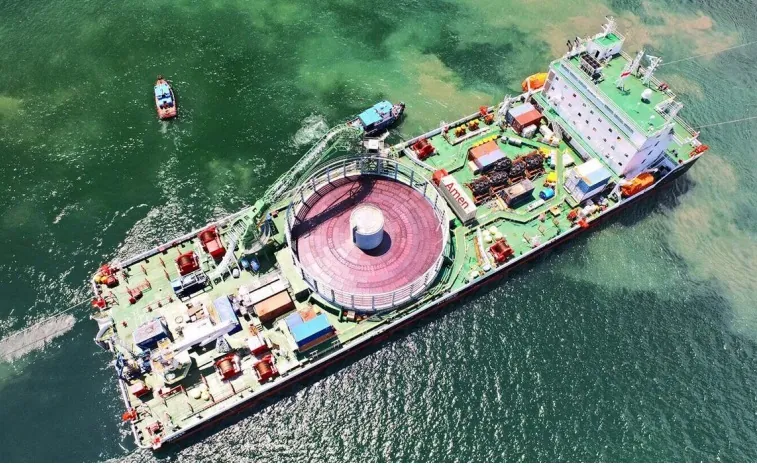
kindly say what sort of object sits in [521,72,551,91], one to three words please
boat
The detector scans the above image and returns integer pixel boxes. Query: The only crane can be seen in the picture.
[146,317,244,382]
